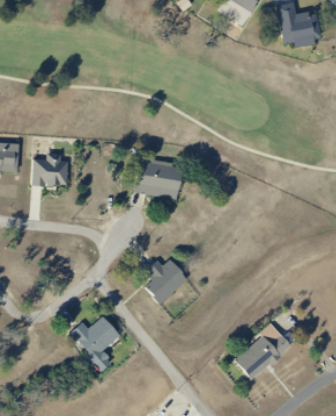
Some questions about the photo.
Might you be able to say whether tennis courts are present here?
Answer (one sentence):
No, the picture doesn't show any tennis court.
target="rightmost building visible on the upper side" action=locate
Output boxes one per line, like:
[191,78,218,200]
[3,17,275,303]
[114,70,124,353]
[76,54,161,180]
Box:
[282,0,322,46]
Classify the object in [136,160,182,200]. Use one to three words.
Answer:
house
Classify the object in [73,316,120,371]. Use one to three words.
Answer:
house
